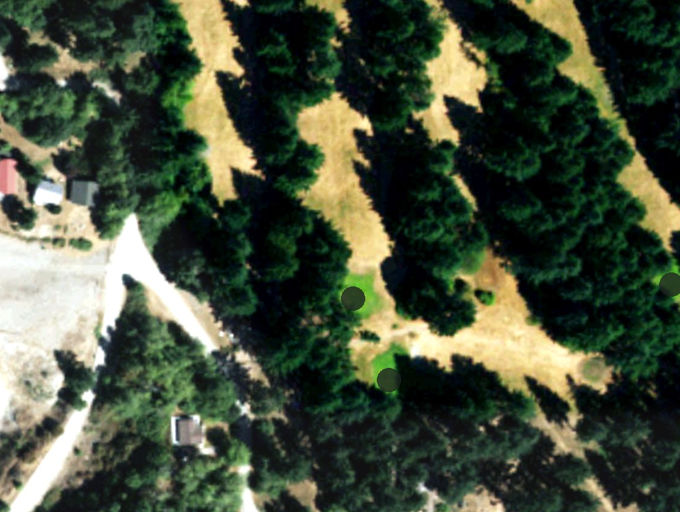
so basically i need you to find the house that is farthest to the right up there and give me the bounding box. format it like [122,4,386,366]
[171,413,210,457]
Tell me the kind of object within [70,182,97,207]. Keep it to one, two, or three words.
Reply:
house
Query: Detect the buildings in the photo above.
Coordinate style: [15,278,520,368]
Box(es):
[32,181,63,207]
[70,182,97,207]
[171,413,210,457]
[0,159,17,198]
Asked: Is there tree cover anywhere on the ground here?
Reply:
Yes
